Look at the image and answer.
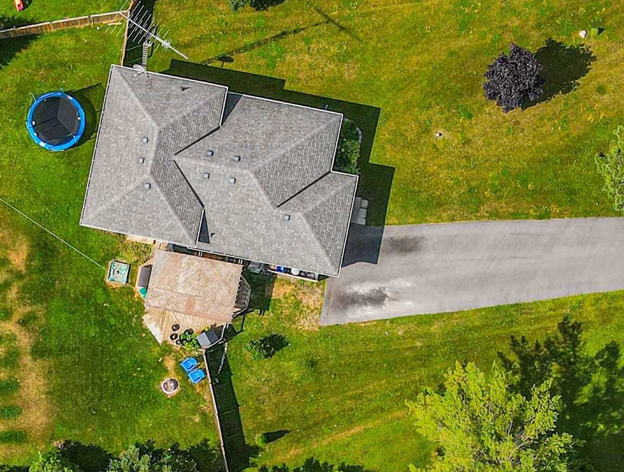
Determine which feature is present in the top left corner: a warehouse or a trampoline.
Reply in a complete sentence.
The one visible in the top left corner is a trampoline.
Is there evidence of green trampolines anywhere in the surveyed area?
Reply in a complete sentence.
No, I can't see a single green trampoline in this photo.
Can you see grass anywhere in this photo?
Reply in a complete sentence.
Yes, some grass is visible.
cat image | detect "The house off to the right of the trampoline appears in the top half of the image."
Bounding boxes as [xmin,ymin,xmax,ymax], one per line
[78,62,361,280]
